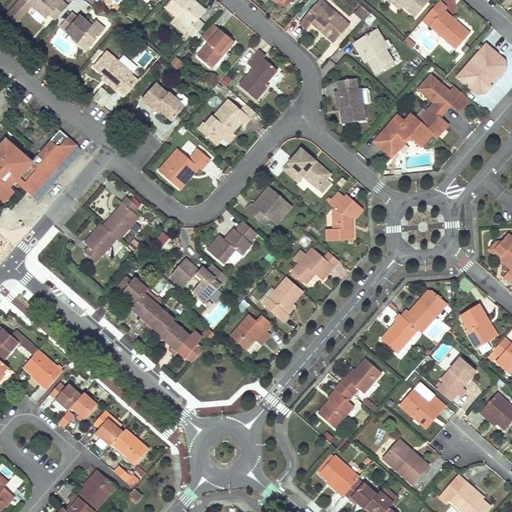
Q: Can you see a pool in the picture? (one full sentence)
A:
Yes, this view includes a pool.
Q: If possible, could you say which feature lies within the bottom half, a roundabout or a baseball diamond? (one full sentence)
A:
Looking within the bottom half, you will find a roundabout.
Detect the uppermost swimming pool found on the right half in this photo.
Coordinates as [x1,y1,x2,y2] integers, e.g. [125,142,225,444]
[420,31,436,50]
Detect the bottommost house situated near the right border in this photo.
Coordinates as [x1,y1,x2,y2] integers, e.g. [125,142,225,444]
[438,476,495,512]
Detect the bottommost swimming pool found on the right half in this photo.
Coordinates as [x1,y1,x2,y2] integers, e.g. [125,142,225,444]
[432,342,453,361]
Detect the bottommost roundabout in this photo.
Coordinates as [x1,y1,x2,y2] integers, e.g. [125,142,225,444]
[172,402,266,505]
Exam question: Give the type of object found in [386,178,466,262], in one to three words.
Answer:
roundabout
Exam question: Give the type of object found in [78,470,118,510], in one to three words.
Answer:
house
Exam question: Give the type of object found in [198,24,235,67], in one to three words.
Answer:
house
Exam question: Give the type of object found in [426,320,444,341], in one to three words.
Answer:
swimming pool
